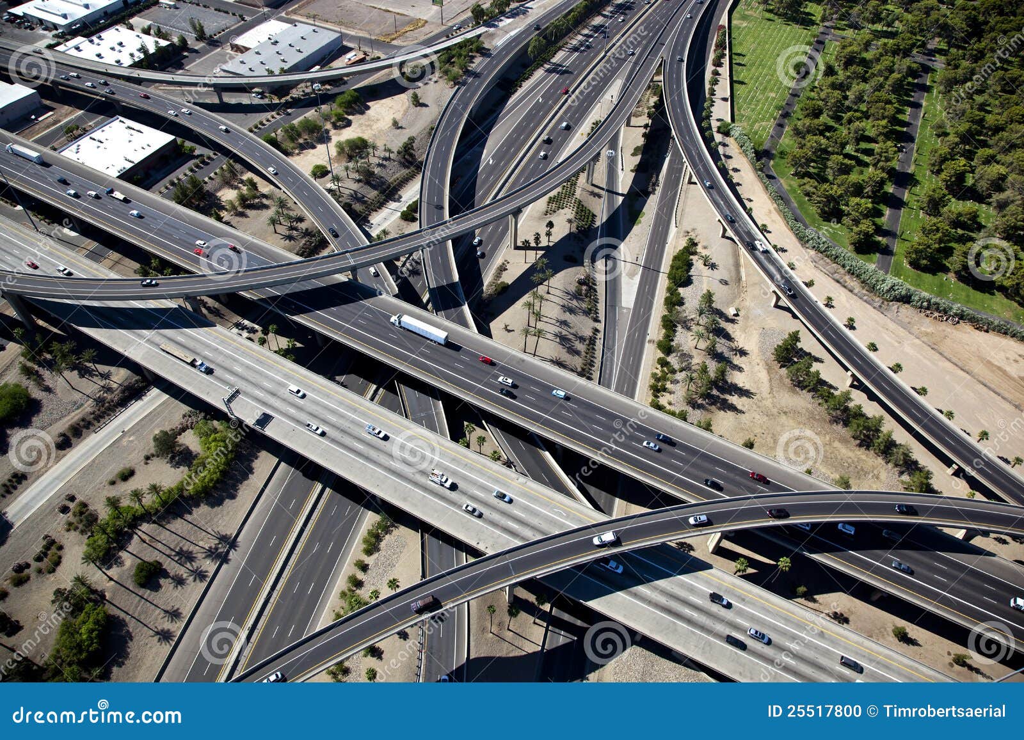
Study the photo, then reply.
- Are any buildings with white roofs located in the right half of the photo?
No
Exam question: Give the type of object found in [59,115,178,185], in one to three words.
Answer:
building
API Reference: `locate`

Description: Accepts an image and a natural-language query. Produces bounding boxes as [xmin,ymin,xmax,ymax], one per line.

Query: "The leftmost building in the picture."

[0,81,44,127]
